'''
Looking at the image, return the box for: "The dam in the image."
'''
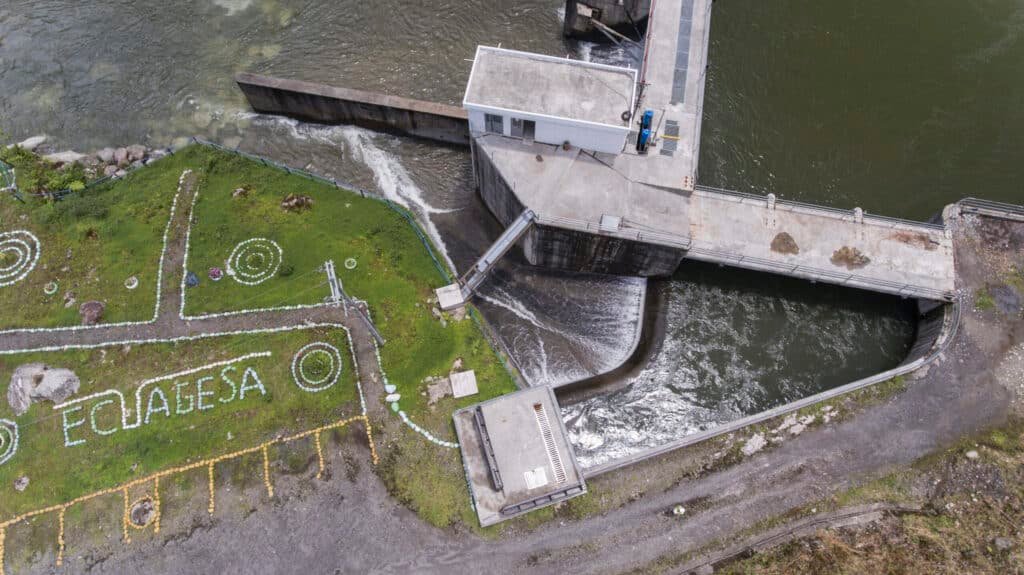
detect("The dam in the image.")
[236,0,714,411]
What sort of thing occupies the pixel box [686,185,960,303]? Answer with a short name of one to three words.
bridge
